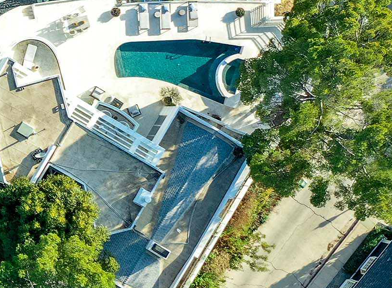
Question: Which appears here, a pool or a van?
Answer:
pool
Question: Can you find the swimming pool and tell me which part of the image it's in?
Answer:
top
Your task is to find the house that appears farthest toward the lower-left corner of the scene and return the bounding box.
[0,35,252,288]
